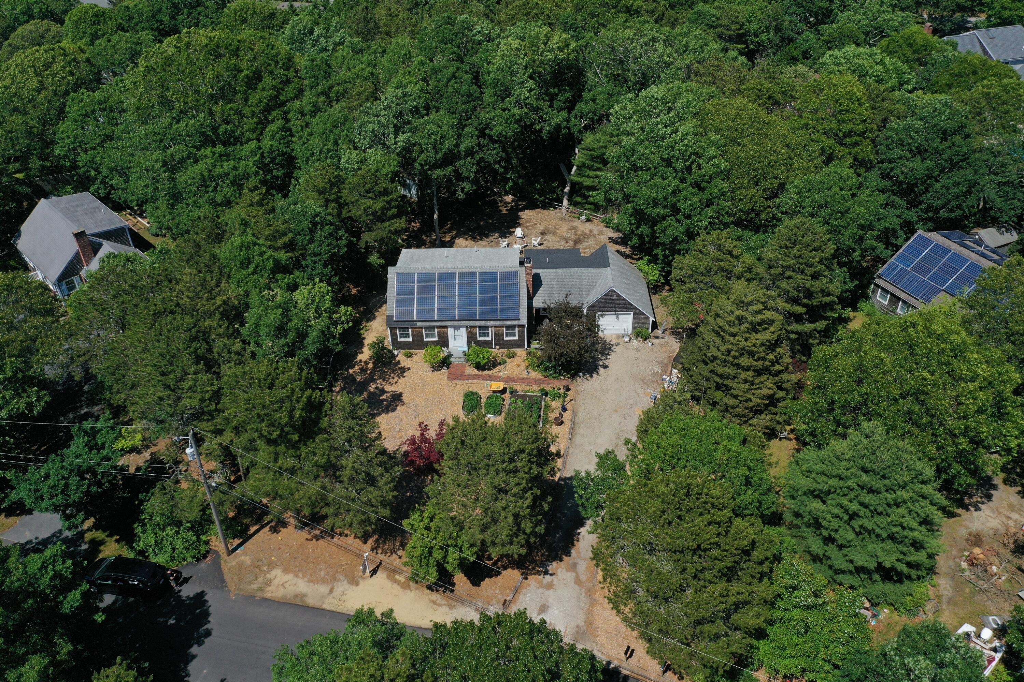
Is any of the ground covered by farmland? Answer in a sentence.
No, there's no farmland in this view.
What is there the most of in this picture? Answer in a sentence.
Most of the picture is covered by trees.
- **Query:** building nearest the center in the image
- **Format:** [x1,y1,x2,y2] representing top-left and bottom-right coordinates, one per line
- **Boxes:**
[386,244,656,363]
